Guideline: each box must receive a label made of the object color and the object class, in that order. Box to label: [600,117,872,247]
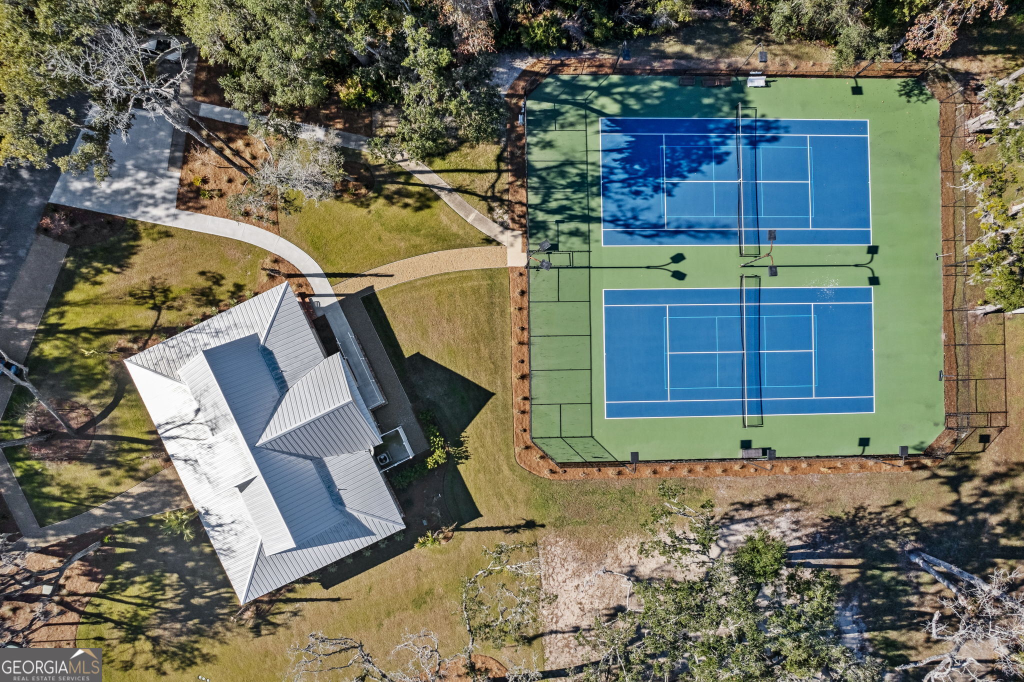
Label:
blue tennis court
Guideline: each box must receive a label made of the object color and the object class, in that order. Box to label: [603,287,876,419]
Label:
blue tennis court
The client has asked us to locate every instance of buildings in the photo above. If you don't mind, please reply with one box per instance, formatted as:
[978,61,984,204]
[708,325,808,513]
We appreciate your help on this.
[126,283,406,603]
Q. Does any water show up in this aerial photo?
No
